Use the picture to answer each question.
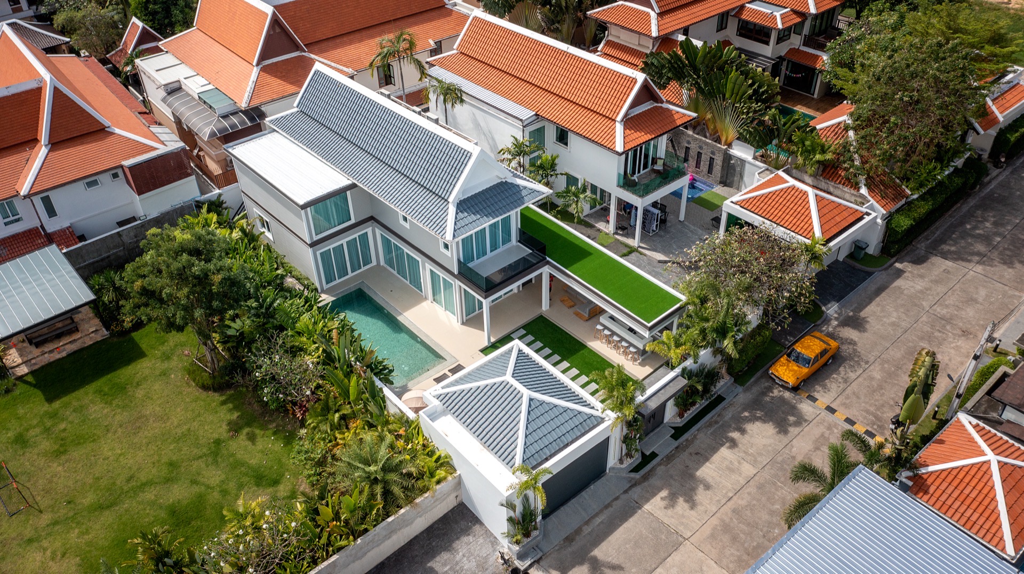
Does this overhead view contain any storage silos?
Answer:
No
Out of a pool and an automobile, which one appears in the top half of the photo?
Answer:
pool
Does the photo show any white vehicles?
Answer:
No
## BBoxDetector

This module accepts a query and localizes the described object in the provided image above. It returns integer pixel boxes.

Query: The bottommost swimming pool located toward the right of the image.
[674,172,718,205]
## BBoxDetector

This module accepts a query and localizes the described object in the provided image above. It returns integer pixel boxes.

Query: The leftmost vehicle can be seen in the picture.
[766,332,839,393]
